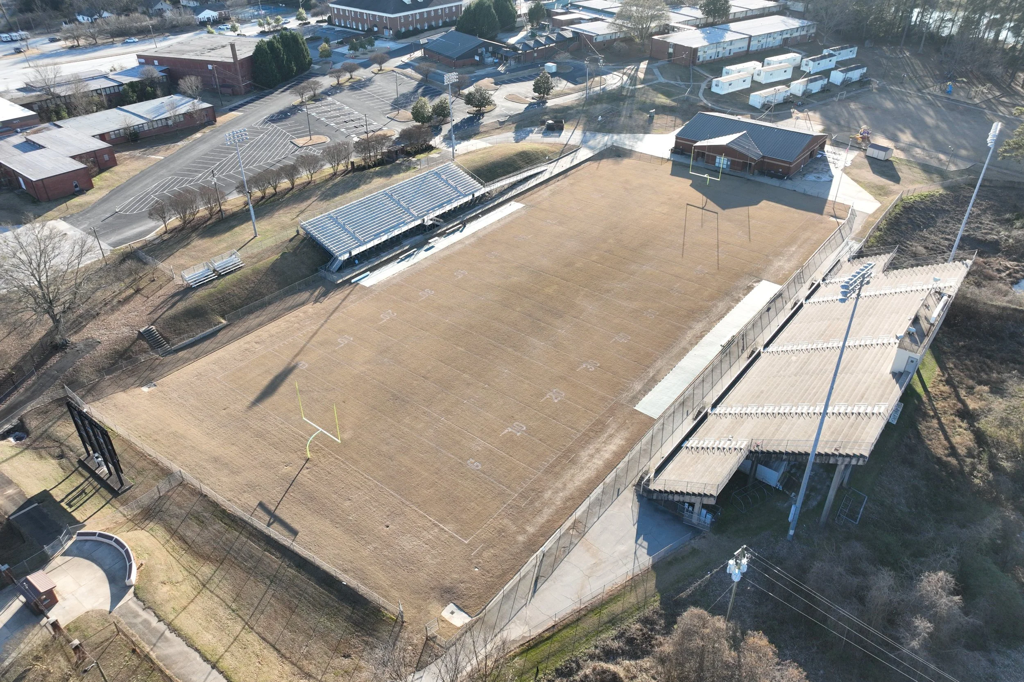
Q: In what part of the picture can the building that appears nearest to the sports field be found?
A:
top right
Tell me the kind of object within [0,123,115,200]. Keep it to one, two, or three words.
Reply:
building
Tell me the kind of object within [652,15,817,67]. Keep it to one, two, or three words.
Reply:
building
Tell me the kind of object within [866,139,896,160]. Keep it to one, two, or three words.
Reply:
shed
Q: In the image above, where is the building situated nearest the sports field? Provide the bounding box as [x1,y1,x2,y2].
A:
[674,108,836,175]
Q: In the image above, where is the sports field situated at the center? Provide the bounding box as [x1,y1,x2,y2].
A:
[91,151,848,622]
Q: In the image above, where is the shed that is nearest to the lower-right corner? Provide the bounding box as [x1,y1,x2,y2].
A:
[763,458,819,502]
